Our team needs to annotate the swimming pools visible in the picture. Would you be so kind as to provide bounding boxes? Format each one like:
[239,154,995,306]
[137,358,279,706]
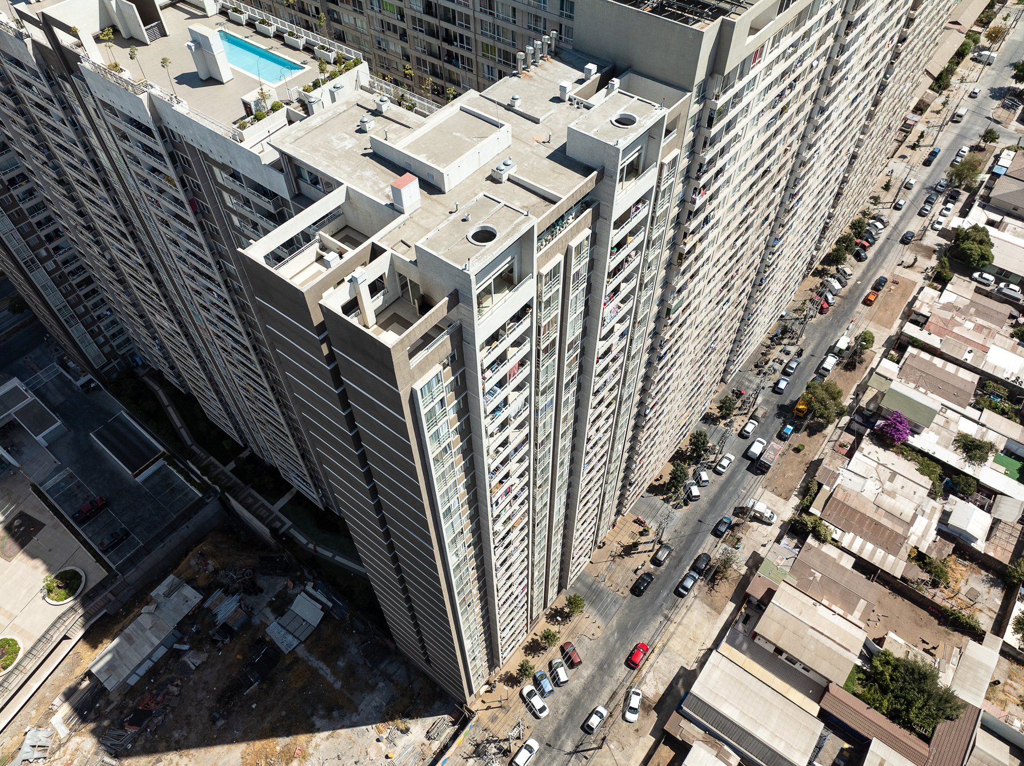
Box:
[215,25,307,86]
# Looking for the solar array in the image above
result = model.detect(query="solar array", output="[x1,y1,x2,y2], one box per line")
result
[644,0,793,36]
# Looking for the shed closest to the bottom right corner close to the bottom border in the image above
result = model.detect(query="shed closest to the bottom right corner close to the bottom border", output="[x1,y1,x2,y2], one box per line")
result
[961,730,1014,766]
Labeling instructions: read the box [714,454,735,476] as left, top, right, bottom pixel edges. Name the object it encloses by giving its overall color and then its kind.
white car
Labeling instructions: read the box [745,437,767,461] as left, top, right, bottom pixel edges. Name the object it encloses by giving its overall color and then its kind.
white vehicle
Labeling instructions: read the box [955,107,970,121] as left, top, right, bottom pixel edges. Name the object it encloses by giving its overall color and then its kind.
white vehicle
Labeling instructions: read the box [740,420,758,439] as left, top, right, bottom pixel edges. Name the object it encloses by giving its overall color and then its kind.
white car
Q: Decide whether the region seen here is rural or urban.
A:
urban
